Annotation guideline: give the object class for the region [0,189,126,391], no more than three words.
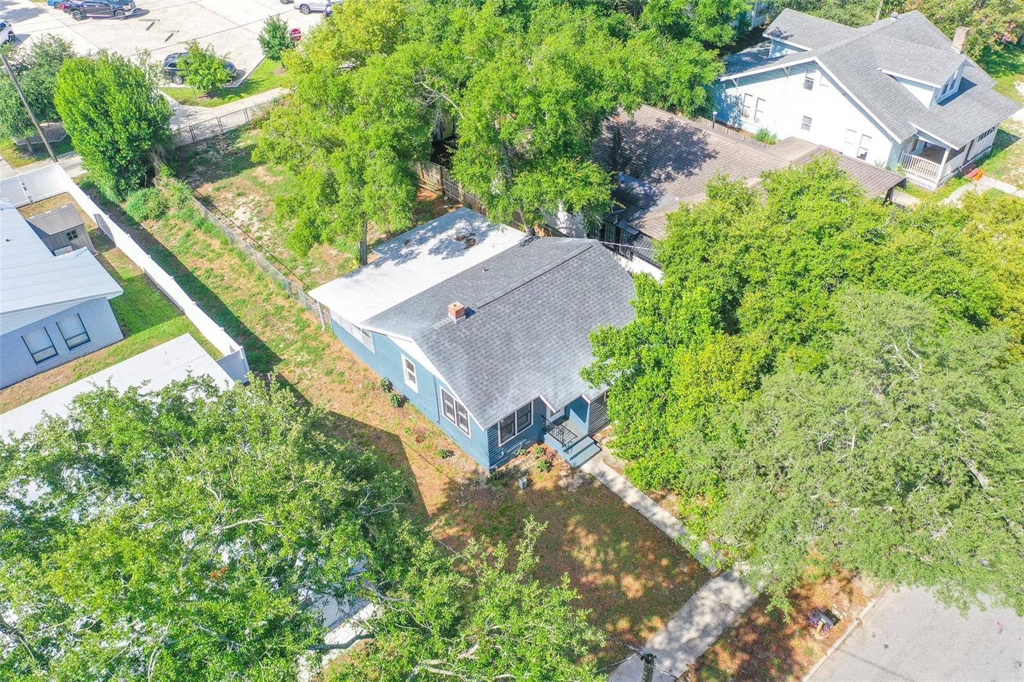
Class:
house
